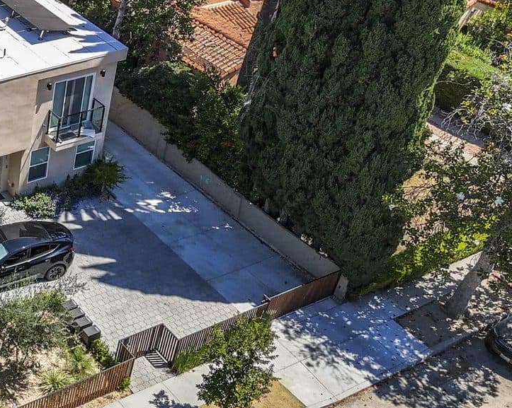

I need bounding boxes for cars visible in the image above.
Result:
[0,221,75,292]
[471,308,512,376]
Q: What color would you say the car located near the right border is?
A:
black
